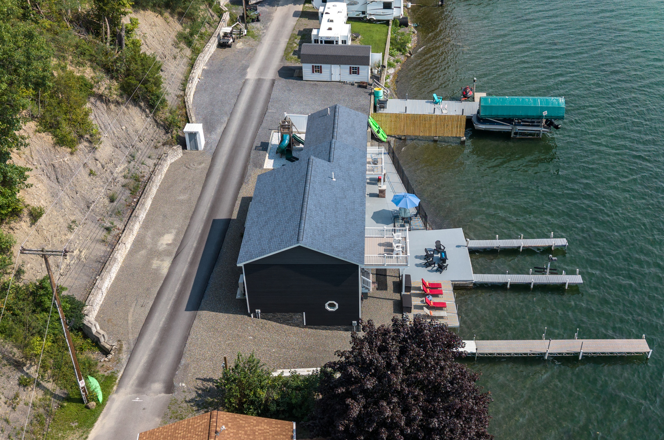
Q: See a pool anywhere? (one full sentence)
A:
No, I can see no pool in this picture.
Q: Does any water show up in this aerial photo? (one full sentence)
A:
Yes, there is water in the image.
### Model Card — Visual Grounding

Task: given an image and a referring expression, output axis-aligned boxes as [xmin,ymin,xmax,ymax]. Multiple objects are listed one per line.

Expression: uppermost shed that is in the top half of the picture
[301,47,372,82]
